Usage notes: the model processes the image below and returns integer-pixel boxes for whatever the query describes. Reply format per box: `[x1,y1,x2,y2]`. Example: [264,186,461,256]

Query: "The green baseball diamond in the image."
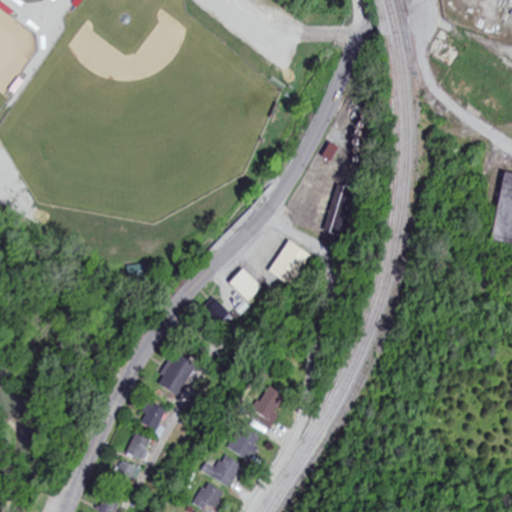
[0,0,282,225]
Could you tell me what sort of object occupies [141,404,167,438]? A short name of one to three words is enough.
house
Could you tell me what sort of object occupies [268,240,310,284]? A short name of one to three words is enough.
building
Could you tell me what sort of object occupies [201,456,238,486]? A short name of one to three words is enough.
house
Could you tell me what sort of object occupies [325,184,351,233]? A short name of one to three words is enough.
barn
